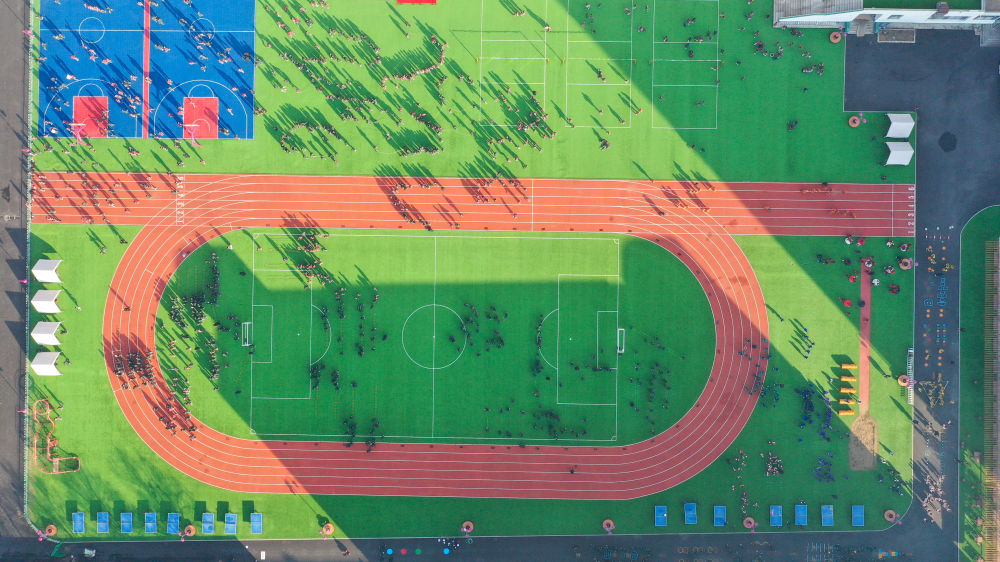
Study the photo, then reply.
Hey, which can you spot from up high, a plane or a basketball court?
basketball court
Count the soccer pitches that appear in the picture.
1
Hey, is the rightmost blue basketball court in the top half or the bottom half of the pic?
top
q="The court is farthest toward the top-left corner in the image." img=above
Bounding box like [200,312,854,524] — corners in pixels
[38,0,144,139]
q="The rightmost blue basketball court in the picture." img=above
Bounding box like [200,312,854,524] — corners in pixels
[148,0,255,139]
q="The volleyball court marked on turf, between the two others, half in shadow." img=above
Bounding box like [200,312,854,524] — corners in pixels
[565,0,633,127]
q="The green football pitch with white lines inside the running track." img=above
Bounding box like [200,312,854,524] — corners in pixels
[250,234,619,441]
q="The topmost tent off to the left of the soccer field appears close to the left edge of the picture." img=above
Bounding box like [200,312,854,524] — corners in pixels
[31,259,72,282]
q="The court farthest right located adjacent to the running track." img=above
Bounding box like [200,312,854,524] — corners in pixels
[652,0,720,128]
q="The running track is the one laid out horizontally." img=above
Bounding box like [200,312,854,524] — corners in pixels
[33,175,916,497]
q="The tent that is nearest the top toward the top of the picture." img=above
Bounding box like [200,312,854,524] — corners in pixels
[878,114,917,140]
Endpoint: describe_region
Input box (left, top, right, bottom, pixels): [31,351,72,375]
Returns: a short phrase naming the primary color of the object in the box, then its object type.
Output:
white tent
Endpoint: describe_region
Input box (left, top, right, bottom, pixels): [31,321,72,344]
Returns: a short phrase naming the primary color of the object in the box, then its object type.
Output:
white tent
